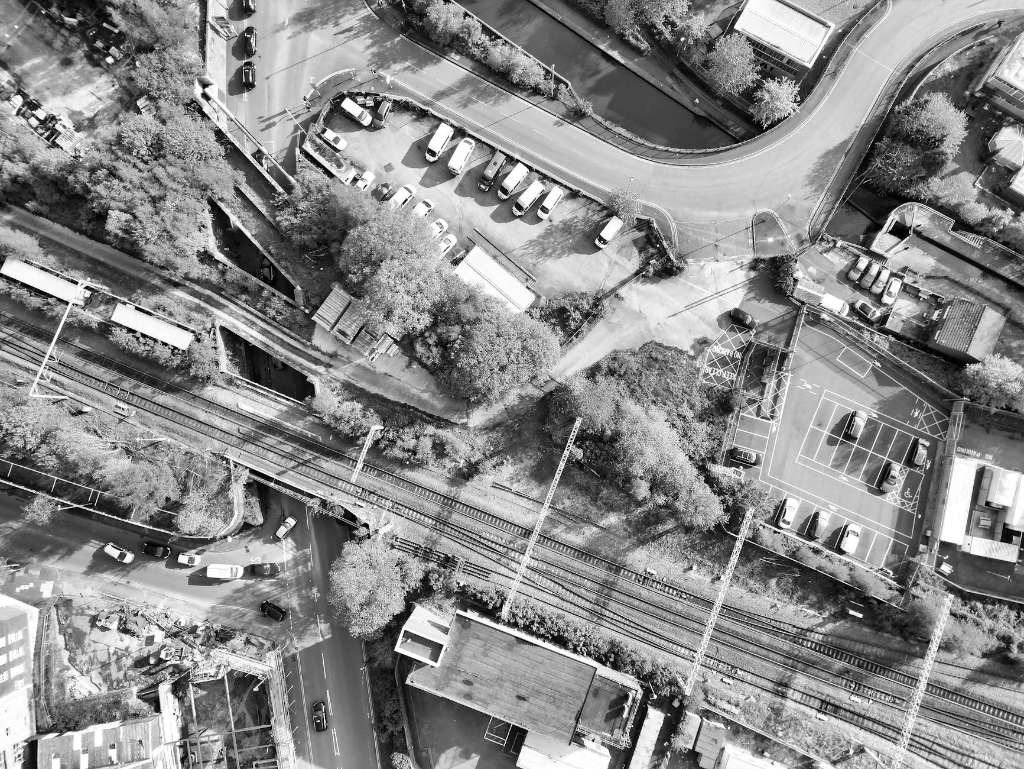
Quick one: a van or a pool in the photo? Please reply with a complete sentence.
Looking from above, you can make out a van.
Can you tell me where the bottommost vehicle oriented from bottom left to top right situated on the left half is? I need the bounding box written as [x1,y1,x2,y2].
[273,514,298,541]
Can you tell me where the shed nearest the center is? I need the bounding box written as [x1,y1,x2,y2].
[455,246,535,306]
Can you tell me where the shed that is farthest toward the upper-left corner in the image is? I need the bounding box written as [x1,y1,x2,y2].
[0,257,94,304]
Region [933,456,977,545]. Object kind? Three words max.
shed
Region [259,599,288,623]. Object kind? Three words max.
car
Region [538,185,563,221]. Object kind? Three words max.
vehicle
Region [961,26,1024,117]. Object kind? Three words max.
building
